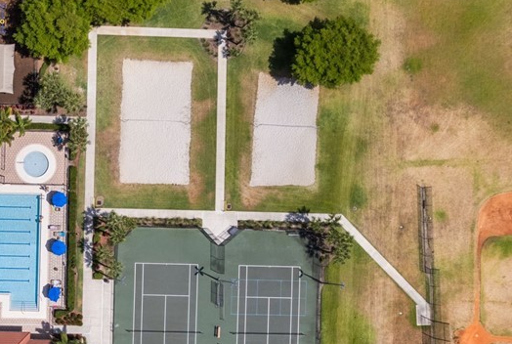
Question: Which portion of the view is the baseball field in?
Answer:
bottom right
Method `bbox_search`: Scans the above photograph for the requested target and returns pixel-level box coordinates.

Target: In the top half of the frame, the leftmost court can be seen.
[119,60,195,184]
